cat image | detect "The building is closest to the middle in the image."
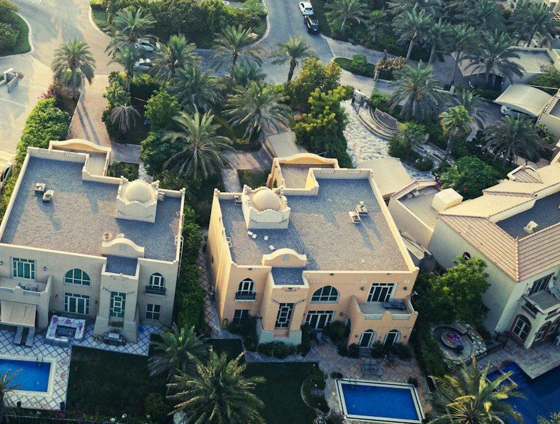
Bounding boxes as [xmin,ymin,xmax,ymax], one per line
[211,165,423,368]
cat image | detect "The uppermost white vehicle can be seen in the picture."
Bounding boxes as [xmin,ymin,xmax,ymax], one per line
[299,0,316,15]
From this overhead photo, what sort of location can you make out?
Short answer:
residential area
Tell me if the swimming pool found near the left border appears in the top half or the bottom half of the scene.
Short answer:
bottom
